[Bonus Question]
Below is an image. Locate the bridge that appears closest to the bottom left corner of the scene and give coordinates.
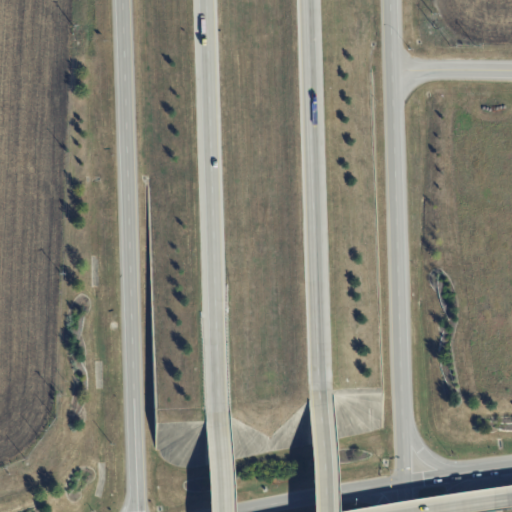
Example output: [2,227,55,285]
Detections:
[206,412,236,512]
